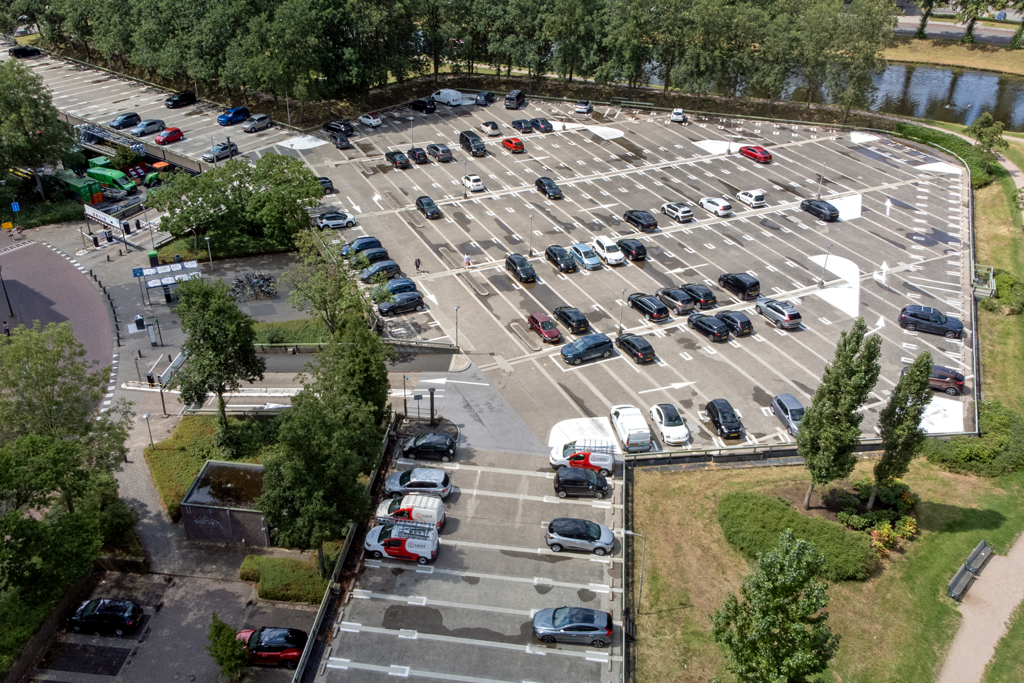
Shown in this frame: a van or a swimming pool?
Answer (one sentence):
The one in the frame is a van.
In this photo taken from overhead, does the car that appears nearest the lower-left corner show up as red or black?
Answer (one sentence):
The car that appears nearest the lower-left corner is black.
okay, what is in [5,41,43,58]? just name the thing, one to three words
vehicle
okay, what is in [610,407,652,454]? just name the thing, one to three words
van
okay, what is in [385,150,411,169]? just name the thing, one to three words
car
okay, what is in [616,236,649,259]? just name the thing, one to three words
car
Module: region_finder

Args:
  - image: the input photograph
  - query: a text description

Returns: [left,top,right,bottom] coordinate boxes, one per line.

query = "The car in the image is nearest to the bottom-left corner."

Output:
[59,594,150,635]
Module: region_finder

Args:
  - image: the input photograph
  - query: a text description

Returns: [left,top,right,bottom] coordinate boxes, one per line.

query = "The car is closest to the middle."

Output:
[526,311,563,344]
